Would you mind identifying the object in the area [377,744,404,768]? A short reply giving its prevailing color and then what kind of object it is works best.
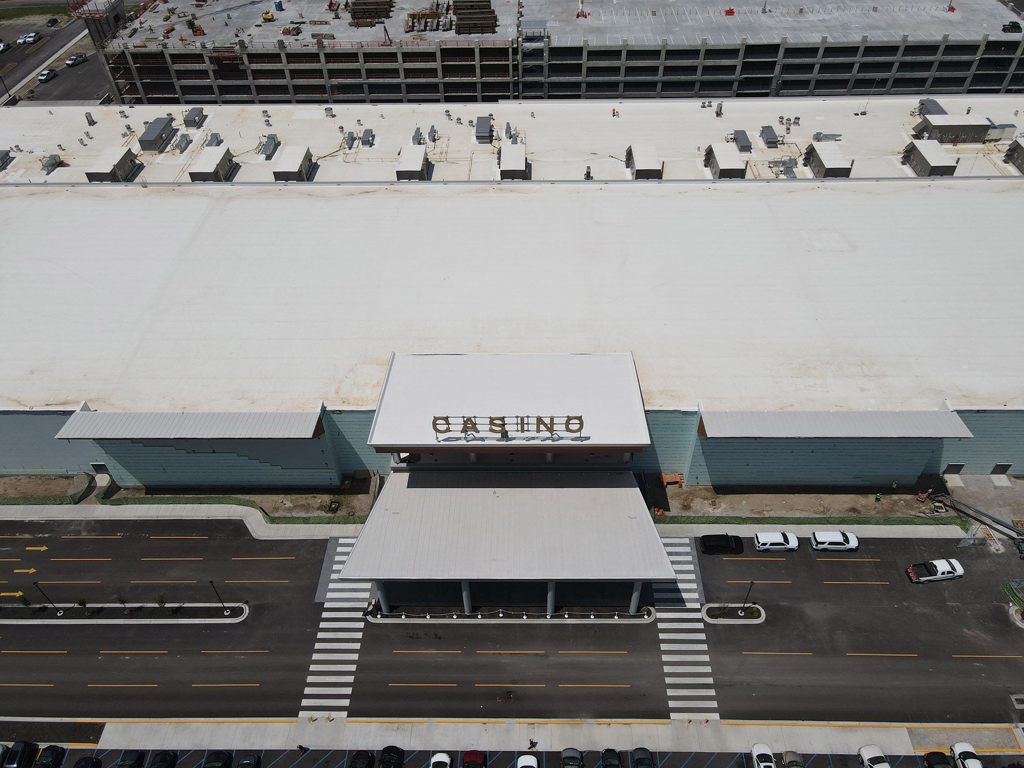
black car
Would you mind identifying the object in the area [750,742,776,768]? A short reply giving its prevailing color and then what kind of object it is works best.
white car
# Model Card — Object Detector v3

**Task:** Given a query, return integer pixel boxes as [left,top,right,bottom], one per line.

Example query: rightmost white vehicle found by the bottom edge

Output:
[950,739,990,768]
